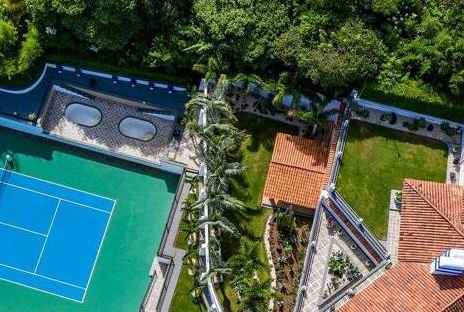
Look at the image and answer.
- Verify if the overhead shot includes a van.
No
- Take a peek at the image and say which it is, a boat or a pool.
pool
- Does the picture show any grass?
Yes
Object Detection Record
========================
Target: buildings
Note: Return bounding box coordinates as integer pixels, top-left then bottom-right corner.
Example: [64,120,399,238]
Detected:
[262,132,330,211]
[339,127,464,312]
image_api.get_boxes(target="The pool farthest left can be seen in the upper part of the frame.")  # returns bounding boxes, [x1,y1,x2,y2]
[66,102,103,129]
